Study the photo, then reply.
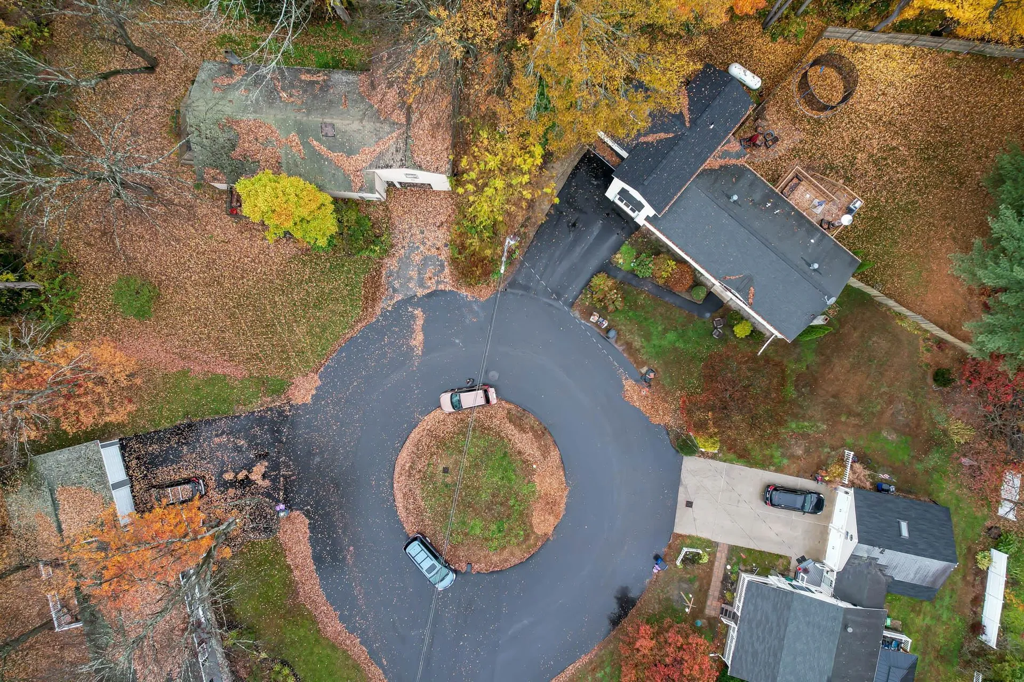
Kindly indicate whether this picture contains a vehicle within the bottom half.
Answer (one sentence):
Yes, a vehicle can be seen within the bottom half.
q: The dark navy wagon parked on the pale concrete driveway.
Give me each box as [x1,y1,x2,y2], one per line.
[762,484,825,516]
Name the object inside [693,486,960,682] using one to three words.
house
